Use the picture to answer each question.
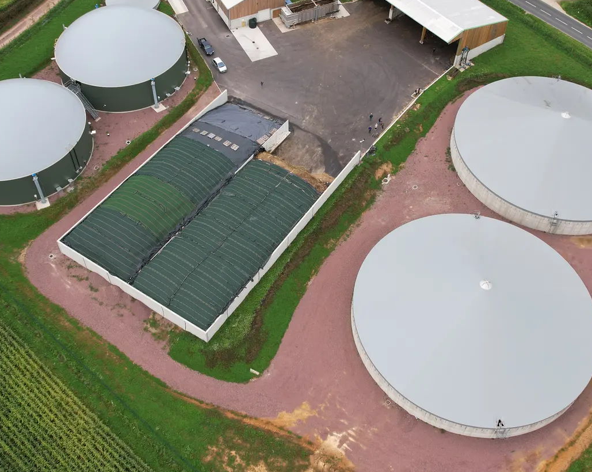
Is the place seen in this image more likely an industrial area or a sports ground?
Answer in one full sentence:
This looks like an industrial area.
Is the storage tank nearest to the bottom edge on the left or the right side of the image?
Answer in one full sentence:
The storage tank nearest to the bottom edge appears in the right half of the scene.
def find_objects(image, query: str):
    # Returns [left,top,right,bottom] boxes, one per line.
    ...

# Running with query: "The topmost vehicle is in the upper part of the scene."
[196,36,216,55]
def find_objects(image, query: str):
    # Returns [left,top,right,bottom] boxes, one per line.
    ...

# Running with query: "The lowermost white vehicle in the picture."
[212,57,228,73]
